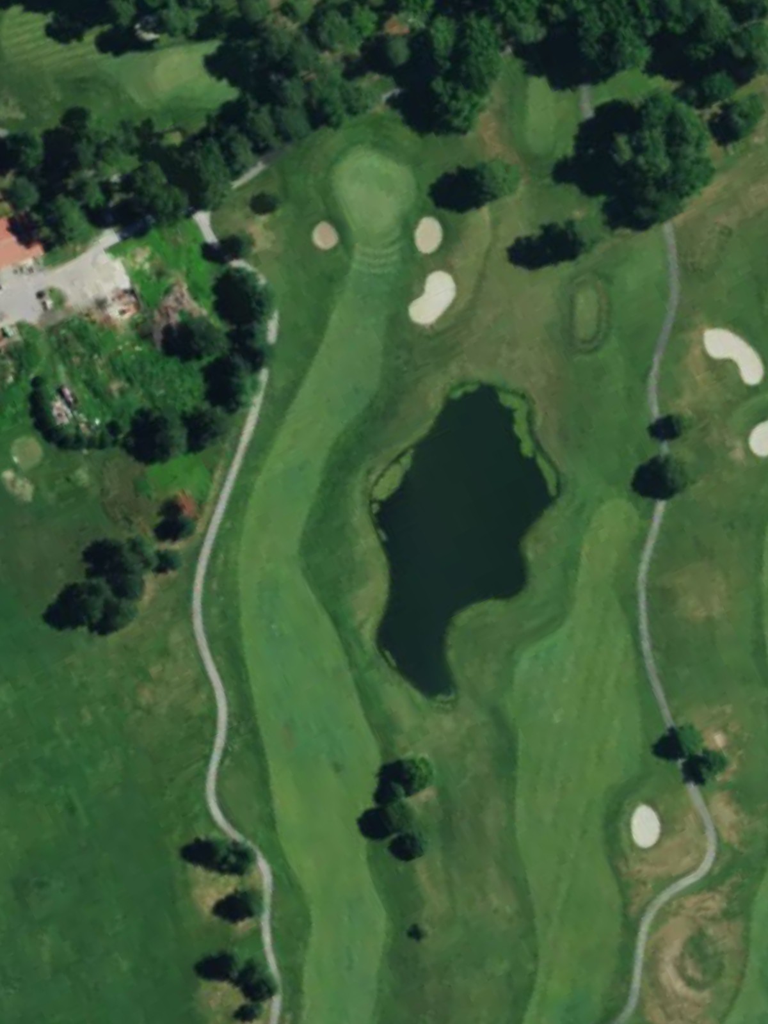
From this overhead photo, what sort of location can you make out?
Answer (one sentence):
What you see here is a golf course.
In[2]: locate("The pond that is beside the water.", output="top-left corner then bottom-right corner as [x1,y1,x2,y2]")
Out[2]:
[372,384,558,698]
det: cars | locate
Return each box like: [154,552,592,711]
[61,387,73,401]
[45,297,53,309]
